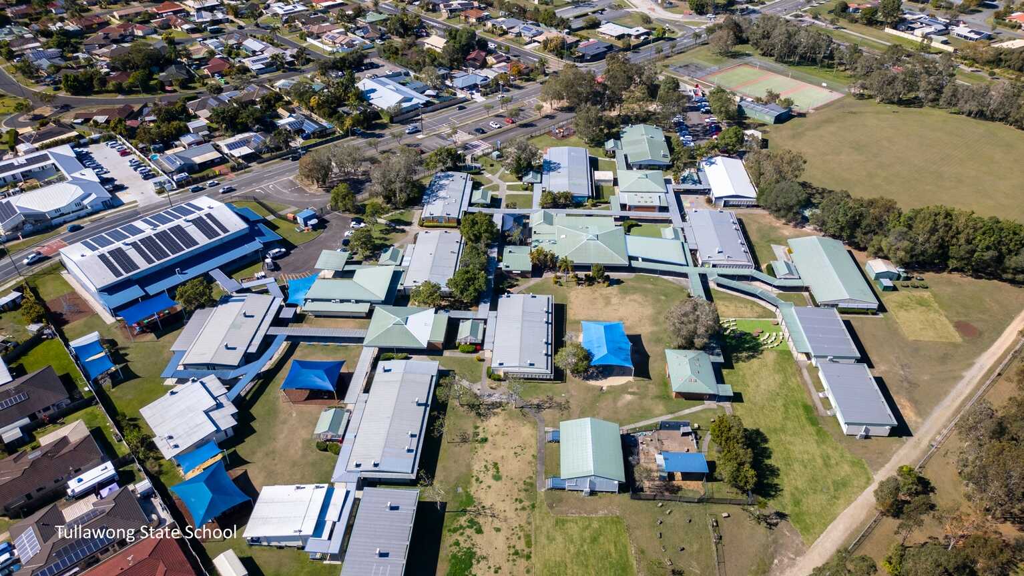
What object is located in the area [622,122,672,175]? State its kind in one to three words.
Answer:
building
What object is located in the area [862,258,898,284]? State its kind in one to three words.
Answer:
shed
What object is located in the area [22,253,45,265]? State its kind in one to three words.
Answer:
vehicle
